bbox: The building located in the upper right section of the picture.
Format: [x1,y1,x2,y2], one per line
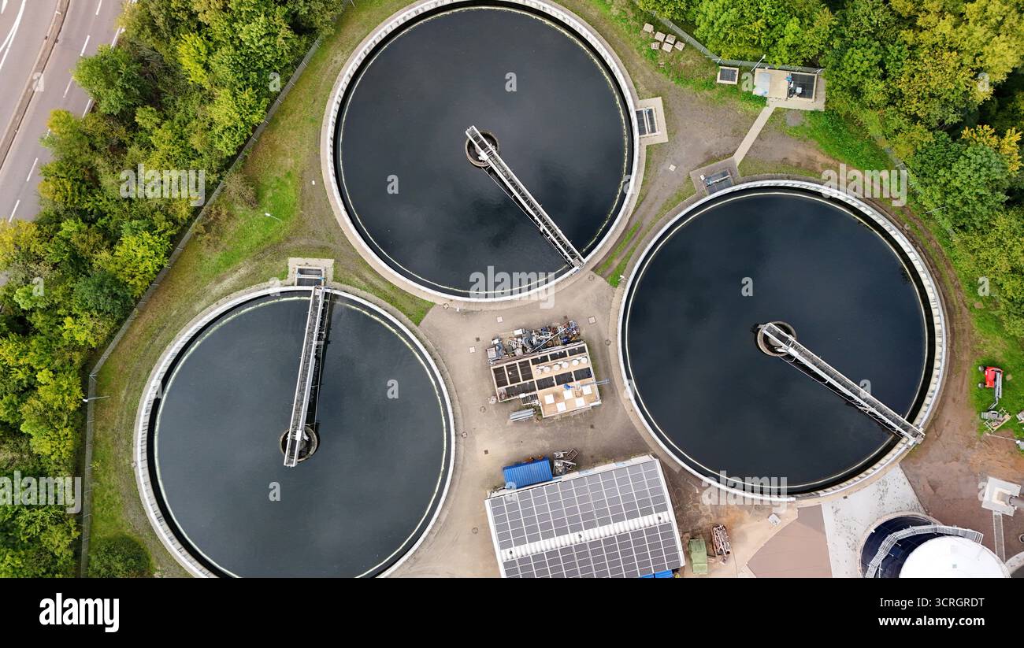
[750,69,816,104]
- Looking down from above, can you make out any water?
Yes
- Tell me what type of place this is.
industrial area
